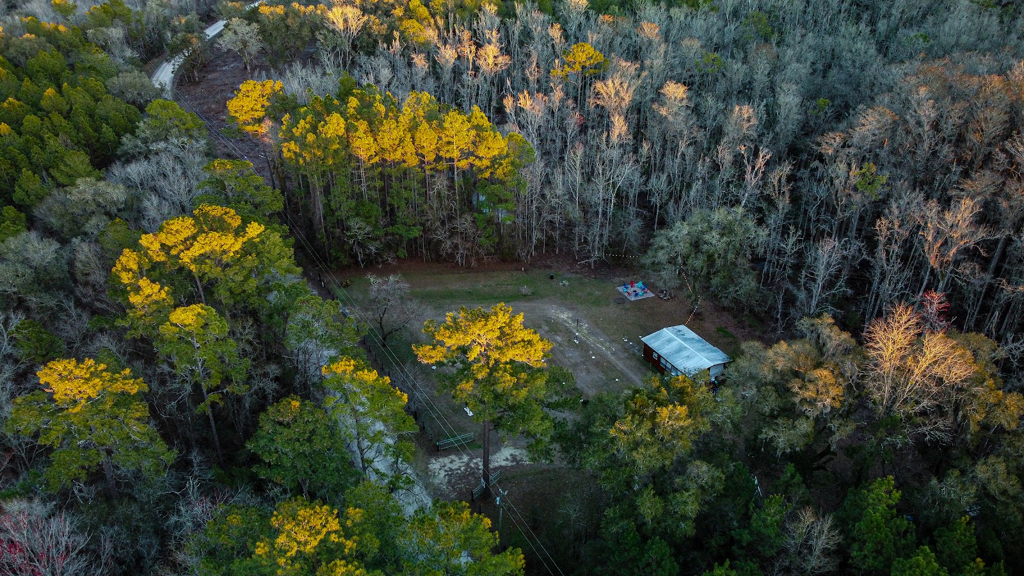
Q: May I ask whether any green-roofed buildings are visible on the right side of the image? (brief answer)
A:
No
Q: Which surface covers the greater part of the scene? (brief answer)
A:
trees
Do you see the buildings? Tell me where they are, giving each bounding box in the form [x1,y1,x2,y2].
[643,323,729,388]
